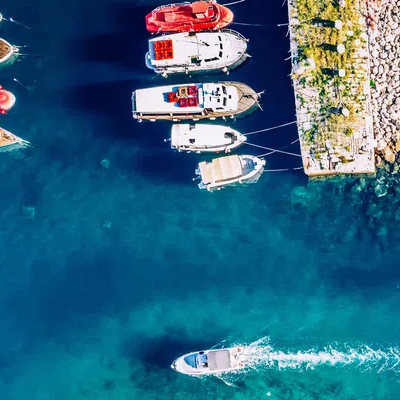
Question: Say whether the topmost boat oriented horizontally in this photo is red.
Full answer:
Yes, the topmost boat oriented horizontally appears red.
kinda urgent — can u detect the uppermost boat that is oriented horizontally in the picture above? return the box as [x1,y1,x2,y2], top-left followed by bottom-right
[145,0,235,34]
